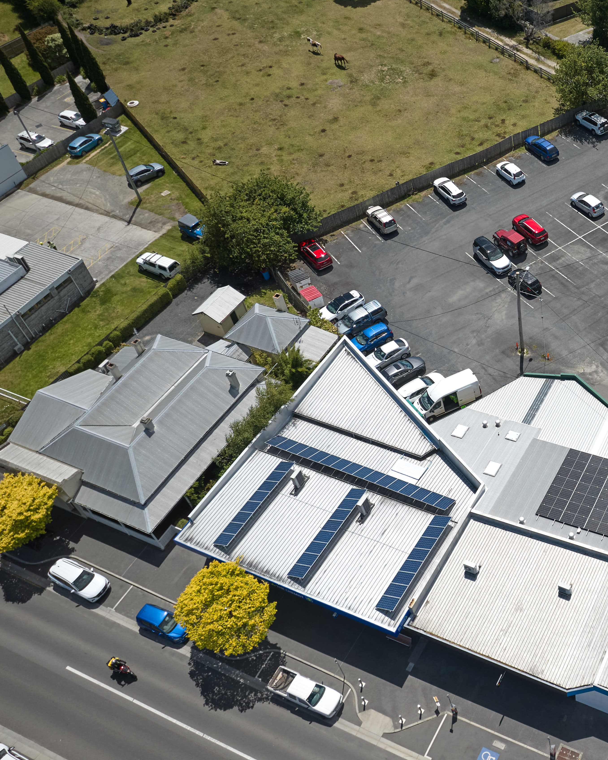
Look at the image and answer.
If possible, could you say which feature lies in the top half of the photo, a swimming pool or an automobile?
automobile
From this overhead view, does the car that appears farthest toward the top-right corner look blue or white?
blue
